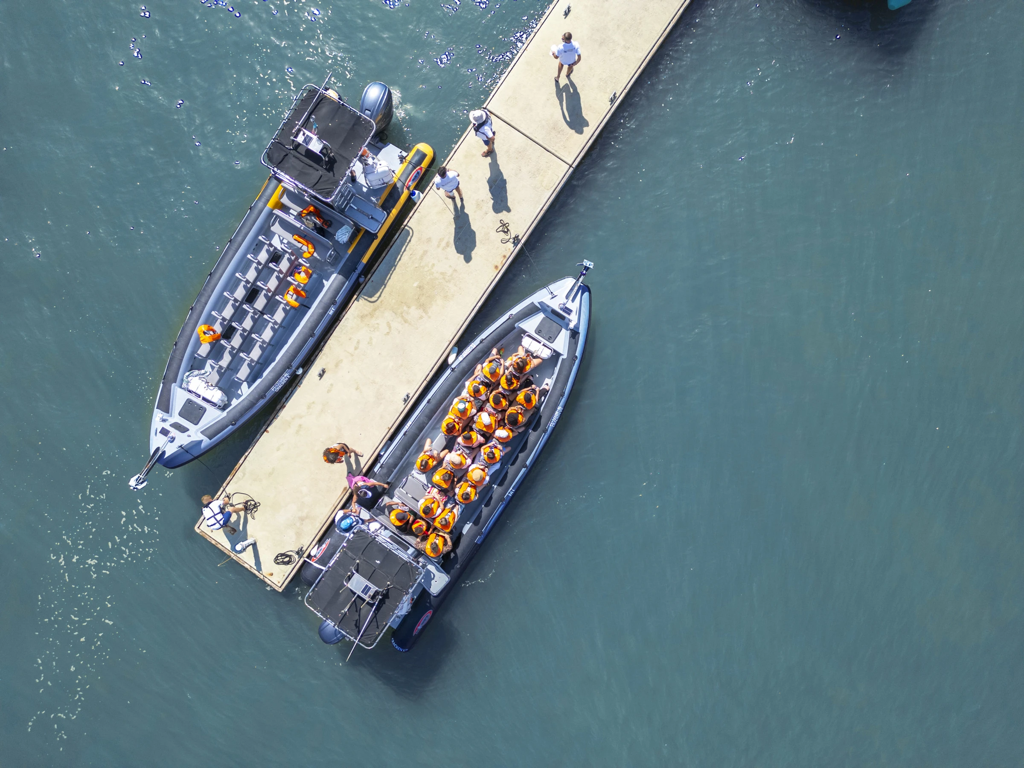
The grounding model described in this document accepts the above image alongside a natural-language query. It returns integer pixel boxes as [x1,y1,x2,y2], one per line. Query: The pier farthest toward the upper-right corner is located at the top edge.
[483,0,689,171]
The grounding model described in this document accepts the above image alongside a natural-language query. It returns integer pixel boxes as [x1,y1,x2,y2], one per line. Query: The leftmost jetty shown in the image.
[193,107,572,590]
